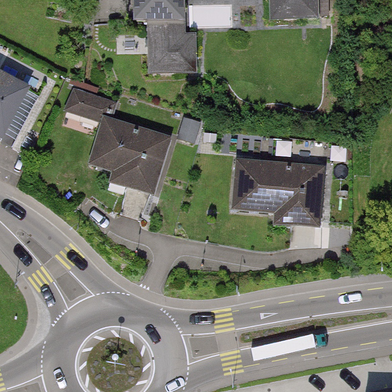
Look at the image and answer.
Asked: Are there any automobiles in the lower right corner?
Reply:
Yes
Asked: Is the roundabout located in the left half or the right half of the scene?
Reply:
left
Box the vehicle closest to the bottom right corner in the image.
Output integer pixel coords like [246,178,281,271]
[338,366,362,390]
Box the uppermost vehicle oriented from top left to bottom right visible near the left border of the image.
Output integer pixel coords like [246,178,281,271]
[0,198,26,220]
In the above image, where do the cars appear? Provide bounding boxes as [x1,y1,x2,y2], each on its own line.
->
[190,312,214,324]
[338,292,362,304]
[40,282,55,307]
[64,248,88,270]
[163,376,185,392]
[12,242,33,266]
[88,207,109,227]
[338,366,362,390]
[144,322,162,344]
[307,372,326,392]
[0,198,26,220]
[53,366,66,389]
